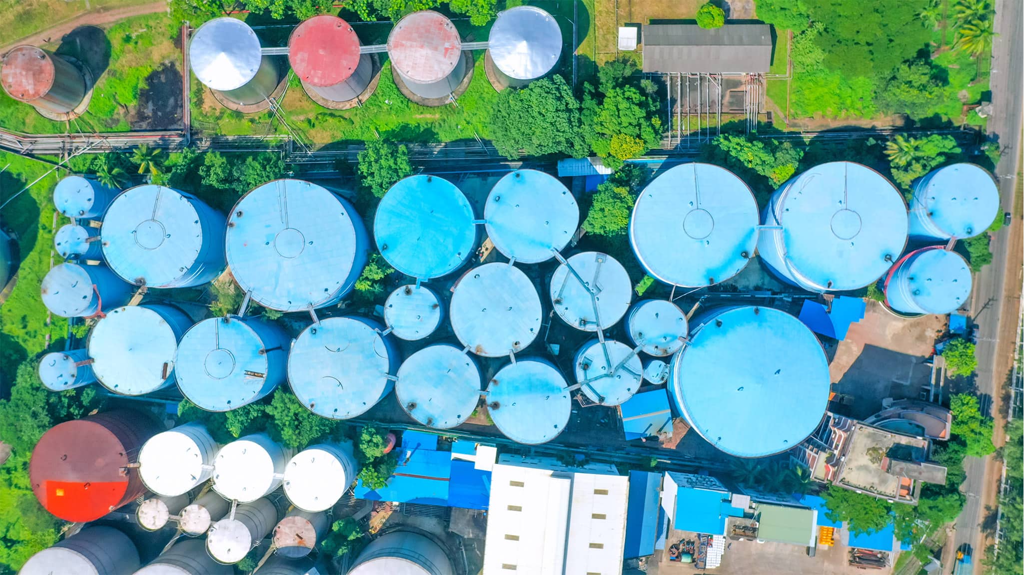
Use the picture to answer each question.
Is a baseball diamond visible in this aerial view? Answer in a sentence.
No, the picture doesn't show any baseball diamond.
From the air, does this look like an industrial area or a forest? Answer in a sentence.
This looks like an industrial area.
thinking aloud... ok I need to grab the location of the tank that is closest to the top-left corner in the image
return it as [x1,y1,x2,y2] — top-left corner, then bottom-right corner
[0,45,95,121]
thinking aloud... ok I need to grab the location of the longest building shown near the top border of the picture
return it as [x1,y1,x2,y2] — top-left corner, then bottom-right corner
[640,24,773,79]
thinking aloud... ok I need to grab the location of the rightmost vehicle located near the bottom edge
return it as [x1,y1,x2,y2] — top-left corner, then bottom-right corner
[959,553,981,575]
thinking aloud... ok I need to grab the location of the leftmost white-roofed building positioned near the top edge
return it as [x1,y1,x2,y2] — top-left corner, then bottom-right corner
[618,27,637,54]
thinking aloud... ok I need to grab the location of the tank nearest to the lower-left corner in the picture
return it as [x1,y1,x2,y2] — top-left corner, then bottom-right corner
[16,522,140,575]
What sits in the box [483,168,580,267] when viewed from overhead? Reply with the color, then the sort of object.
blue storage tank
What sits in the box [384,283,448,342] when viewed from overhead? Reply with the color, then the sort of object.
blue storage tank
